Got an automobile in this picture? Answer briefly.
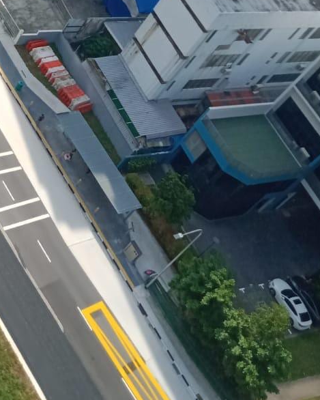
Yes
